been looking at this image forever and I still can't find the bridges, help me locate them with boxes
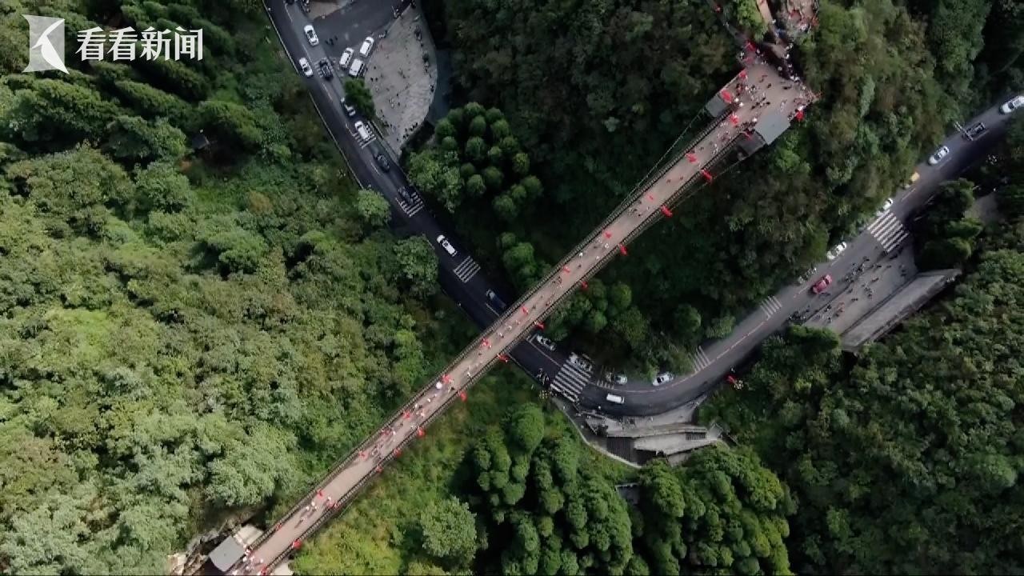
[218,94,766,576]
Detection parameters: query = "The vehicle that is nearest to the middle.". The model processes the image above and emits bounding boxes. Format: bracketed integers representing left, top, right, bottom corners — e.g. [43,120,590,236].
[487,291,506,310]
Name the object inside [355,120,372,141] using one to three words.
car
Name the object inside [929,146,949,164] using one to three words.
car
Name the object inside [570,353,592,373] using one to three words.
vehicle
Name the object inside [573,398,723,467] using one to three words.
building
